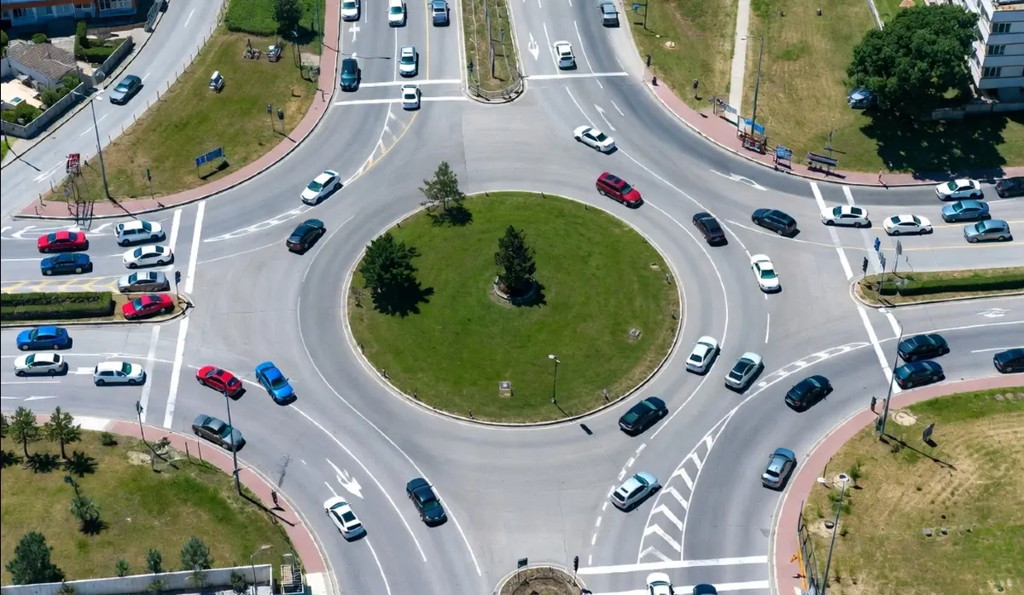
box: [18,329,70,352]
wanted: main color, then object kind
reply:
blue car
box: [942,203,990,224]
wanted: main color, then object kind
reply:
blue car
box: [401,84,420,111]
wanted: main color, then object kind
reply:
white car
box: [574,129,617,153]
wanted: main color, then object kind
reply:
white car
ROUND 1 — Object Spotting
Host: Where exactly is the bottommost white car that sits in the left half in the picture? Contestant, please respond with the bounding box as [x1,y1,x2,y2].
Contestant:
[323,499,367,540]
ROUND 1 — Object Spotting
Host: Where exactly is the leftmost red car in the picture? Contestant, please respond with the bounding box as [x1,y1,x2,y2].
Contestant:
[39,232,88,255]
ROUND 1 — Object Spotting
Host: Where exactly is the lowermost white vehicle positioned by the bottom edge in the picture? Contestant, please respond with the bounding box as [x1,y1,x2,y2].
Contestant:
[648,573,672,595]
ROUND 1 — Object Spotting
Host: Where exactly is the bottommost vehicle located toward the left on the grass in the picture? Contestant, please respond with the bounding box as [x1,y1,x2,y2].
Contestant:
[123,296,174,321]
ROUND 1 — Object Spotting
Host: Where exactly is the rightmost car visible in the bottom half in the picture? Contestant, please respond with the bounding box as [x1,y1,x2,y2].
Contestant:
[994,349,1024,373]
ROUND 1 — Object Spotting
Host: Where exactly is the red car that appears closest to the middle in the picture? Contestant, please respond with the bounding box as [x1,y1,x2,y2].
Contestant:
[595,173,644,206]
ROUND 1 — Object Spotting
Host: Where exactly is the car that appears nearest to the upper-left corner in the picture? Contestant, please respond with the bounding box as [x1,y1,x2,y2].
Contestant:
[109,74,144,104]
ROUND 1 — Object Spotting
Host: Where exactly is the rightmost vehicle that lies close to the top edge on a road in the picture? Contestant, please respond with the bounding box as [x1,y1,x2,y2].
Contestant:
[598,0,618,25]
